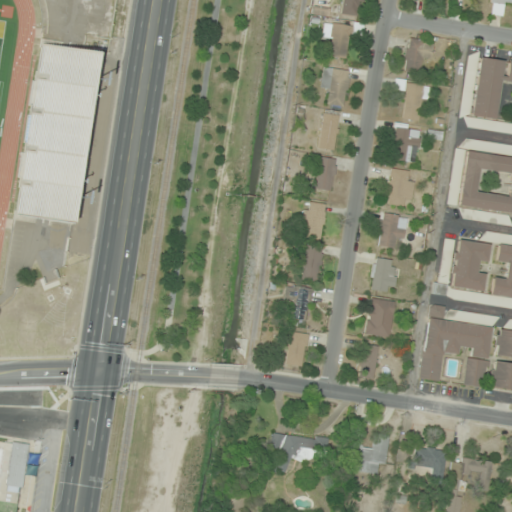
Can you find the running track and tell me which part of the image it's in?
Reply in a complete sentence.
The running track is in the top left part of the image.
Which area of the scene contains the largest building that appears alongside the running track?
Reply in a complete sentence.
The largest building that appears alongside the running track appears toward the top left of the photo.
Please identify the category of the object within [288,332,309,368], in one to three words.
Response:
house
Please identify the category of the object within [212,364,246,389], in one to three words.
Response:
bridge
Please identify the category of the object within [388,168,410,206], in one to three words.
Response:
house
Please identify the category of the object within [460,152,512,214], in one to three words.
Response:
building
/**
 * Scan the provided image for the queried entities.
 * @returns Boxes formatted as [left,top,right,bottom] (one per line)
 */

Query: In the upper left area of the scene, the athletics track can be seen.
[0,0,36,262]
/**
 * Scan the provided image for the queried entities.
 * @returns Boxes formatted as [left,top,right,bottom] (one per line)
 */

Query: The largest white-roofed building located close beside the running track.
[15,44,104,227]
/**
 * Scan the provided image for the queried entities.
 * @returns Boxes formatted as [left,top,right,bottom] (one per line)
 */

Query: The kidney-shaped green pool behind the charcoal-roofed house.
[294,491,314,509]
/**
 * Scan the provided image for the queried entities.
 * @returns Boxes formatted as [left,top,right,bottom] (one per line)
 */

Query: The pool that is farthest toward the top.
[445,359,459,378]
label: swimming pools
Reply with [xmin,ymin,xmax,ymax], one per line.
[445,359,459,378]
[294,491,314,509]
